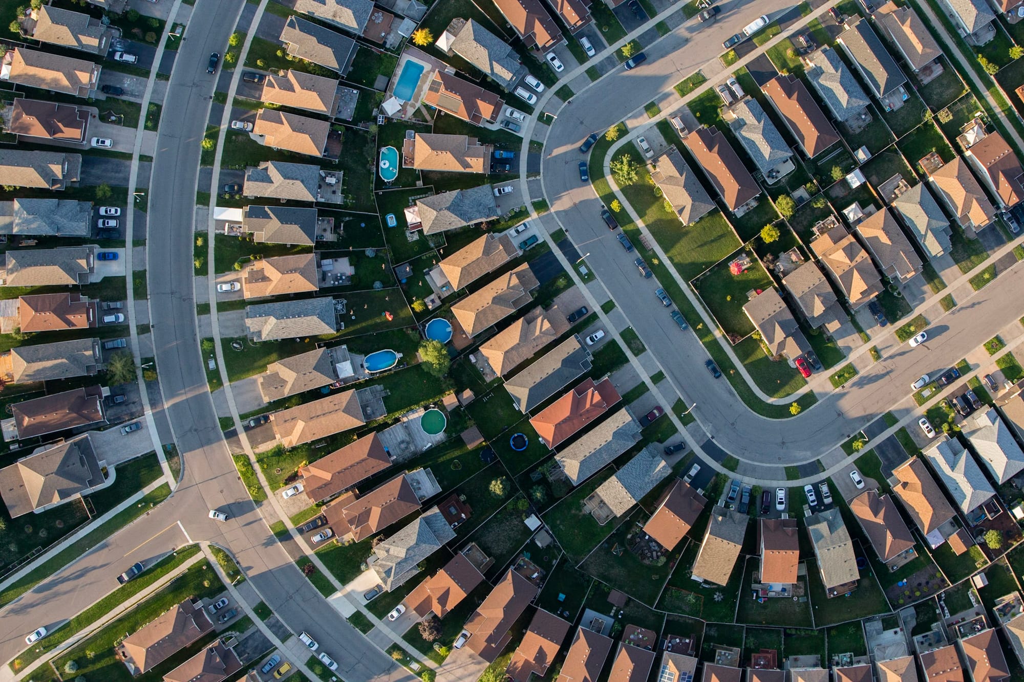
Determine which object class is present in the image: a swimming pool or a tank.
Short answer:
swimming pool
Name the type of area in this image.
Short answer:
residential area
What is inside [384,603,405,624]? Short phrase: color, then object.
white car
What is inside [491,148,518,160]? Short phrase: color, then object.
blue vehicle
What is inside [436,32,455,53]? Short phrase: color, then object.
white gazebo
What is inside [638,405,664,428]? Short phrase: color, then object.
black truck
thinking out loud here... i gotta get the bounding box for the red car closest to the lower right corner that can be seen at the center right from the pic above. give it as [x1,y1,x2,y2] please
[796,356,813,379]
